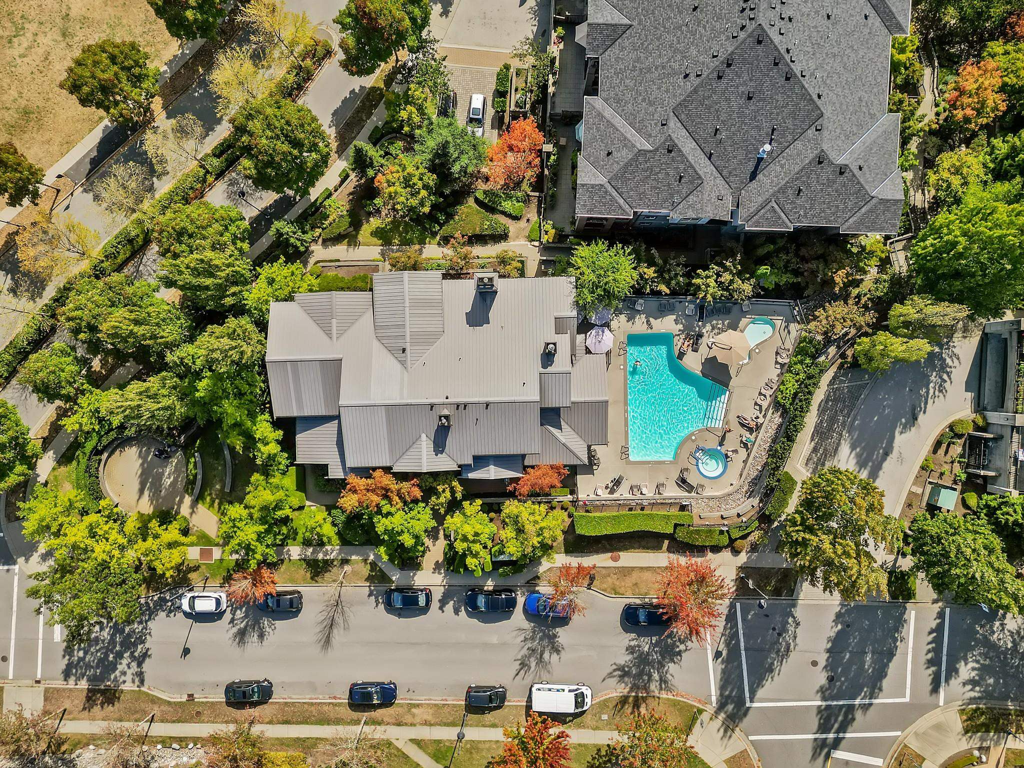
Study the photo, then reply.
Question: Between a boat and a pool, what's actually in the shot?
pool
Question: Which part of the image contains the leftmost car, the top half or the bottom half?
bottom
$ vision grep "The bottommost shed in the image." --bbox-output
[917,477,961,510]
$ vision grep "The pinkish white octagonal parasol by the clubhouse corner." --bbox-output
[585,327,613,354]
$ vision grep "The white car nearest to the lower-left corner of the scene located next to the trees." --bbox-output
[182,591,229,615]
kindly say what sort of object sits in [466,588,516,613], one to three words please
car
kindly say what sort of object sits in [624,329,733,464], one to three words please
swimming pool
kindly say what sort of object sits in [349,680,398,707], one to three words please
car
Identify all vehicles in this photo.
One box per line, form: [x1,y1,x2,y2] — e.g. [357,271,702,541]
[530,683,590,715]
[525,593,570,618]
[620,601,676,628]
[466,588,516,613]
[257,589,305,613]
[349,680,398,707]
[385,586,432,610]
[225,679,274,705]
[466,683,506,708]
[182,591,229,615]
